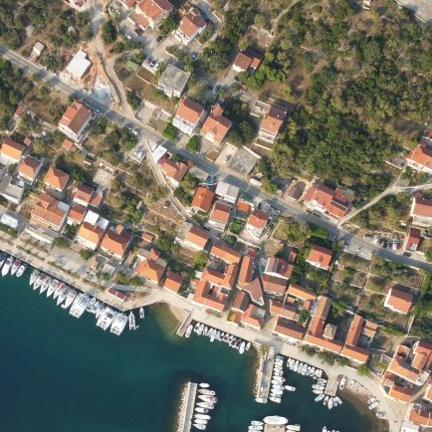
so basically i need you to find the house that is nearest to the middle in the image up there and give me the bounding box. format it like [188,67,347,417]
[207,201,231,232]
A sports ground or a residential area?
residential area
